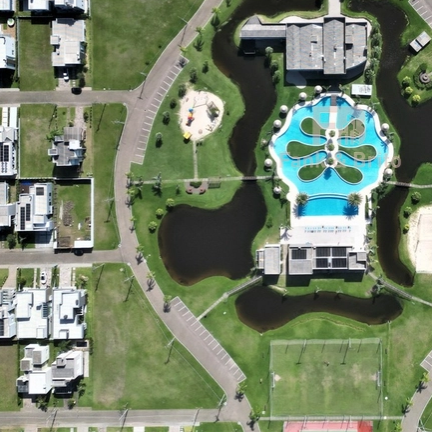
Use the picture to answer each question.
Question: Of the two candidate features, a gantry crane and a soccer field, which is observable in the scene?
soccer field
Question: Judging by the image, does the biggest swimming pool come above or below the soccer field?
above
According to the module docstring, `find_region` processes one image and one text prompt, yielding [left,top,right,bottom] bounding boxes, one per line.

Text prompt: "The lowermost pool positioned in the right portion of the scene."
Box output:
[271,95,390,216]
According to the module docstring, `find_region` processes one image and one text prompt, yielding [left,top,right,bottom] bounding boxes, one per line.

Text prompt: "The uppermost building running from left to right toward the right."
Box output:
[241,14,368,75]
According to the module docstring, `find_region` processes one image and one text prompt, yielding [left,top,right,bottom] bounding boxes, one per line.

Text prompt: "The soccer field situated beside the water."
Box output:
[272,340,382,416]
